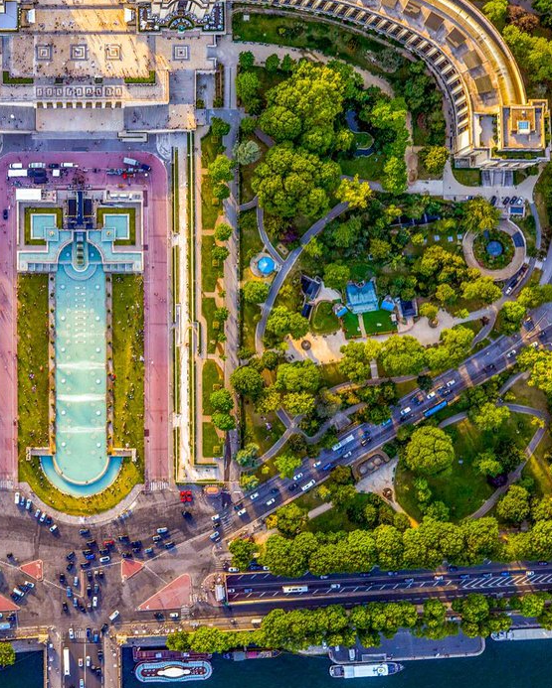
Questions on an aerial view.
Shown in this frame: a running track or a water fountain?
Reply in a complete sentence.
This aerial view contains a water fountain.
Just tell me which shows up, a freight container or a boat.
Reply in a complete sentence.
This aerial view contains a boat.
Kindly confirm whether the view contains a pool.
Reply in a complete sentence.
Yes, I can see a pool in this picture.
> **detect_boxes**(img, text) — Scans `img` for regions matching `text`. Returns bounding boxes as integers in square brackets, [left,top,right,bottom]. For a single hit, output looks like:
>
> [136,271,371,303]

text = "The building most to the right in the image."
[452,102,547,175]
